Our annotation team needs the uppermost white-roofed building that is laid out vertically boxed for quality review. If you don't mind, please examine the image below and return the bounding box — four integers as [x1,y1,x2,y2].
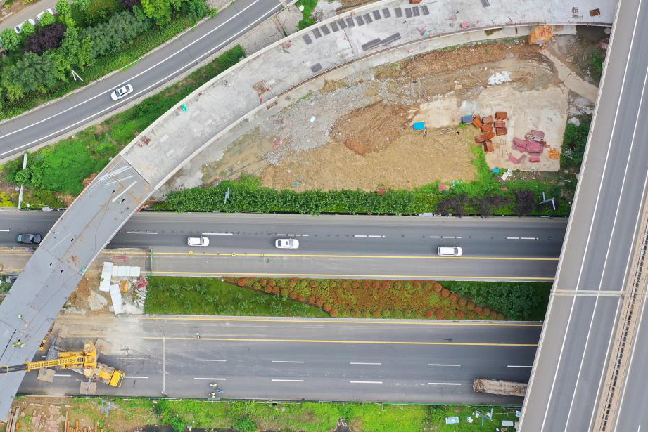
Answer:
[99,262,114,291]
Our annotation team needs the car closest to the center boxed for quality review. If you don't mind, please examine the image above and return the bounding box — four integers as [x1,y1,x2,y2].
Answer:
[275,238,299,250]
